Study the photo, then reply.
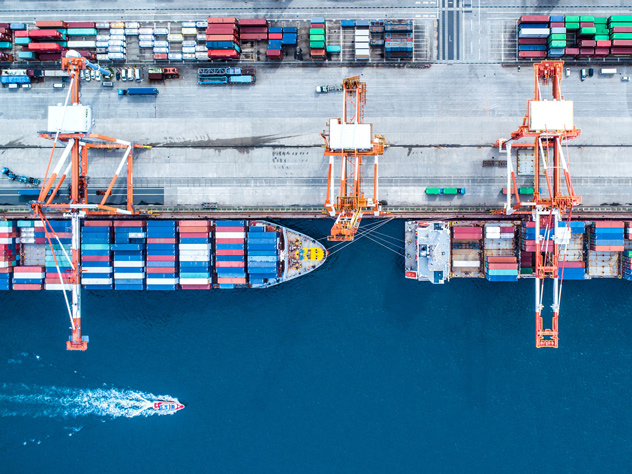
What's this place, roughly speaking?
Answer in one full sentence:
The area seen from above is a port.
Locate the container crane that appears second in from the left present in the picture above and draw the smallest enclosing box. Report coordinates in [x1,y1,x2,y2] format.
[319,72,391,245]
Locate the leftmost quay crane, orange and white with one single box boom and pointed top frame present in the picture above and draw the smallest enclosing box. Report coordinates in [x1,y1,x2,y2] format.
[25,51,153,351]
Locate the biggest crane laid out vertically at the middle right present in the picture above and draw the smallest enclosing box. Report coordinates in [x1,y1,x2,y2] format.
[490,60,584,349]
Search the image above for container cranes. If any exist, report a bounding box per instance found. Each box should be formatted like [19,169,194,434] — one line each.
[490,60,584,349]
[25,51,153,351]
[319,72,391,245]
